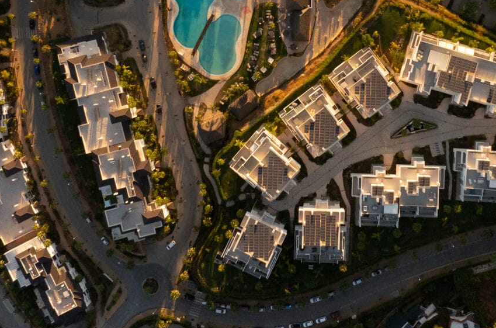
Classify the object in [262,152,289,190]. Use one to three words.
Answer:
solar array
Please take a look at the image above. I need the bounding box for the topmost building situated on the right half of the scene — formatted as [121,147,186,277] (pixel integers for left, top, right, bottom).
[286,0,312,42]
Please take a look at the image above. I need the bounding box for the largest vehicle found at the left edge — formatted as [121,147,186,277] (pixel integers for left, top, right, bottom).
[1,299,14,315]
